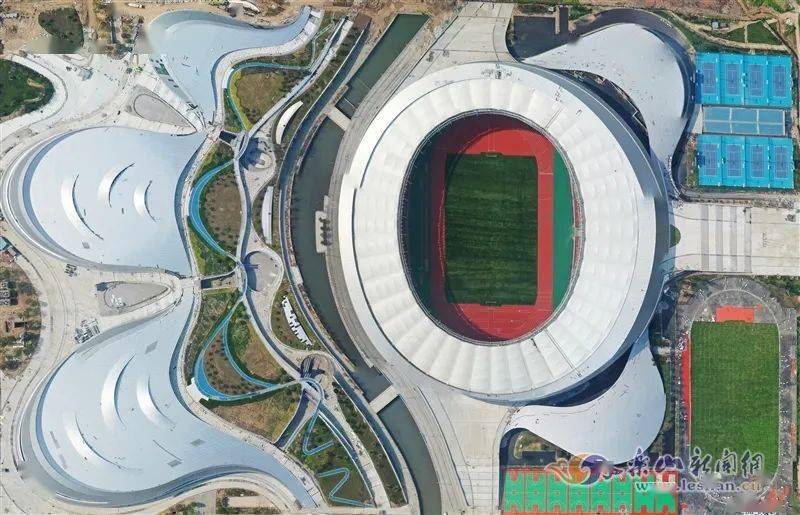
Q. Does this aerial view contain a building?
Yes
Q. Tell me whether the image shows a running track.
Yes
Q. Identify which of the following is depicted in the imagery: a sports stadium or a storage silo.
sports stadium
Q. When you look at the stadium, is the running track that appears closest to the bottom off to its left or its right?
to the right of it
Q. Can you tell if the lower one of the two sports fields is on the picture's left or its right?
right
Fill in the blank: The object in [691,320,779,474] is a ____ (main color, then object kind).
green sports field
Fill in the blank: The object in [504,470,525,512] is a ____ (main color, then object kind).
green basketball court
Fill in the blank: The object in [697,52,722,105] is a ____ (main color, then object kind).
blue tennis court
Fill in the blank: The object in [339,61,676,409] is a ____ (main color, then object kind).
white stadium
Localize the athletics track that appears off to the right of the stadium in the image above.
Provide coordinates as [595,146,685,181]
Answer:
[675,278,797,515]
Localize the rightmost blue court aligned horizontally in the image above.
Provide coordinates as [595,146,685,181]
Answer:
[702,106,786,135]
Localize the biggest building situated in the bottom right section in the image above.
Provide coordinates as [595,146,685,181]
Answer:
[504,326,666,464]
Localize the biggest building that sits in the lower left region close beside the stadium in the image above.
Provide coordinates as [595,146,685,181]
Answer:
[20,284,321,510]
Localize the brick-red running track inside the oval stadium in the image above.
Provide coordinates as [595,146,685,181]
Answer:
[430,109,554,344]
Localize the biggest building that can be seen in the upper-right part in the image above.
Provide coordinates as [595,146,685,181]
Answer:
[521,23,685,203]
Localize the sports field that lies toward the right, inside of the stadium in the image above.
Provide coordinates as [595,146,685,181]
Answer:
[447,151,538,307]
